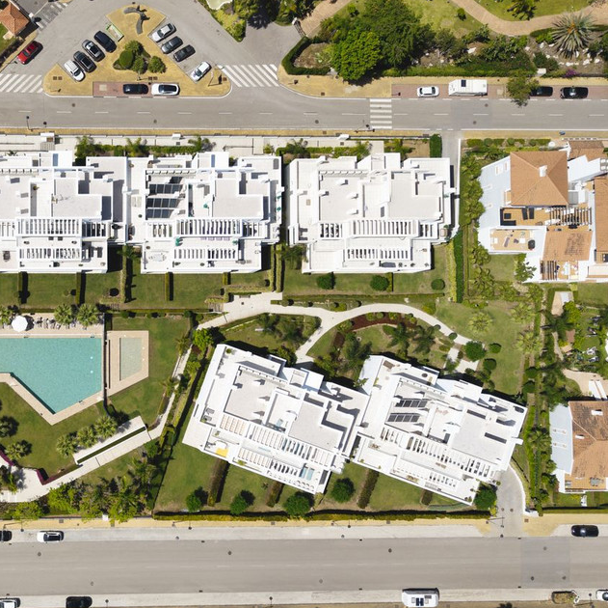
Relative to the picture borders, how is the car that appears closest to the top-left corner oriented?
on a diagonal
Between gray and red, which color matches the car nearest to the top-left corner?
red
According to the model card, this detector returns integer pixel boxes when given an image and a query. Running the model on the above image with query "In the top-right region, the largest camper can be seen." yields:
[444,78,485,98]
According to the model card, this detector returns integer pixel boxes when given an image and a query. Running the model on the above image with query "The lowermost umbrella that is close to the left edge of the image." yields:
[11,314,28,332]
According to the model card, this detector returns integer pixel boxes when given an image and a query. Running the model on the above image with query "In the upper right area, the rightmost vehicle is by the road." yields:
[559,86,589,99]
